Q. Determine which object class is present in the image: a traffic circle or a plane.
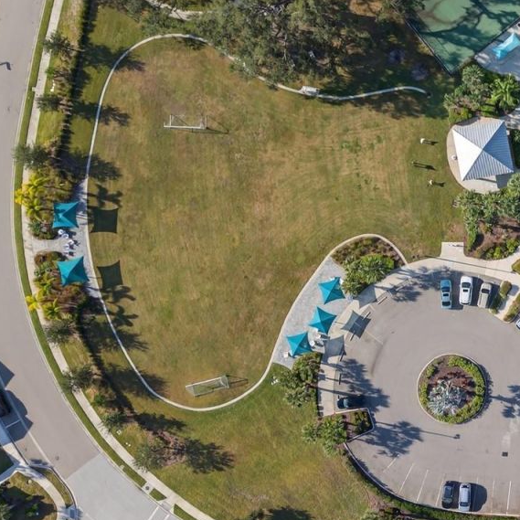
traffic circle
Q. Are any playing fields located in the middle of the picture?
Yes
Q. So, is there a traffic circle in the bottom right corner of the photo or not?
Yes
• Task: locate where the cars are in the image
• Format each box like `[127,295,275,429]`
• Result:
[478,279,493,310]
[336,394,366,409]
[441,478,456,510]
[457,480,472,513]
[439,278,453,309]
[457,275,473,307]
[0,390,14,418]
